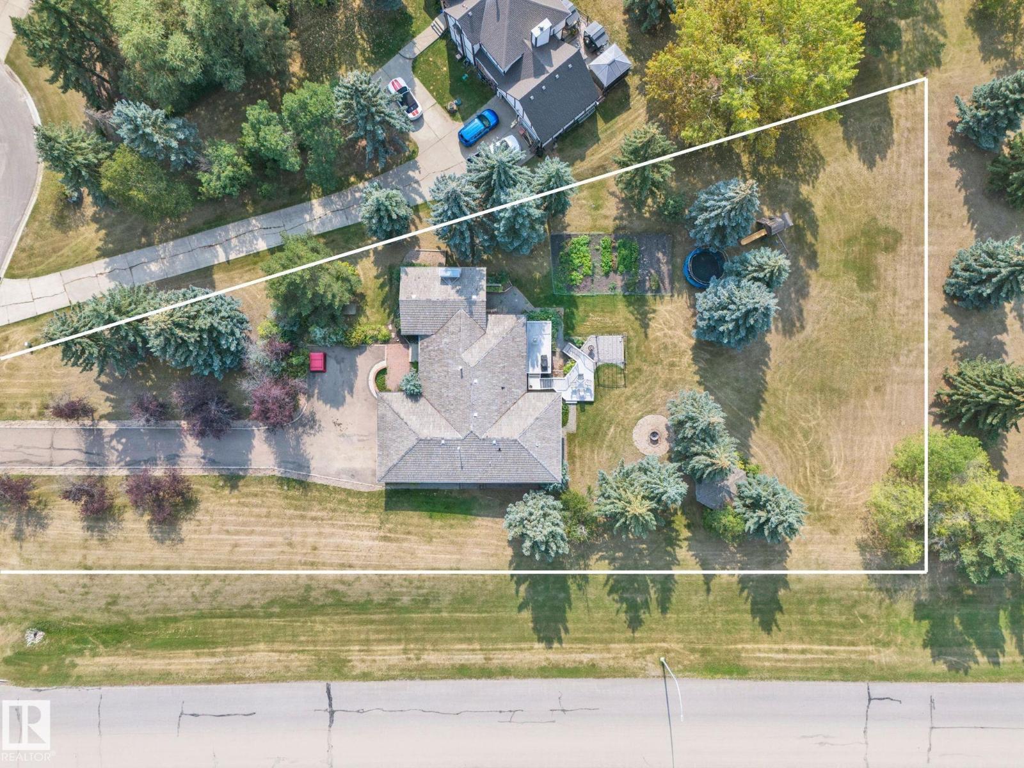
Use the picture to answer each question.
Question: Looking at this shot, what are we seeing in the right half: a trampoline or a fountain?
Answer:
trampoline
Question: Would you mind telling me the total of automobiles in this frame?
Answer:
3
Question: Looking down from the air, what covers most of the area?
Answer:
grass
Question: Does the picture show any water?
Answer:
No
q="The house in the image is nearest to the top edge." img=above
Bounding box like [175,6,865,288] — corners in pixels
[442,0,603,147]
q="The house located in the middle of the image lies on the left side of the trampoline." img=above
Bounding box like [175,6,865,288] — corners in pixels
[376,265,563,483]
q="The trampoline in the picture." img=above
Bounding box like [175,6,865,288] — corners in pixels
[683,245,728,288]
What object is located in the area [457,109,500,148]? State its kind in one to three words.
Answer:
car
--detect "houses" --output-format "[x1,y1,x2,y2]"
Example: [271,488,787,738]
[376,265,563,483]
[442,0,603,147]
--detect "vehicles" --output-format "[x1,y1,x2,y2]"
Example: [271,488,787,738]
[387,77,425,123]
[494,136,520,158]
[457,109,500,148]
